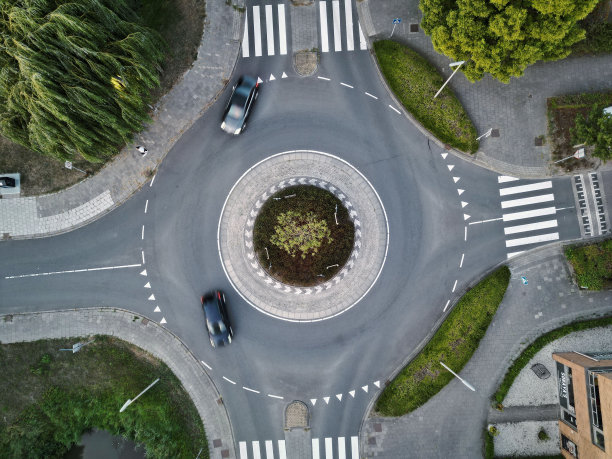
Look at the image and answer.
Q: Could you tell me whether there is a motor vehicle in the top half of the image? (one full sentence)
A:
Yes, you'll find a motor vehicle in the top half of the image.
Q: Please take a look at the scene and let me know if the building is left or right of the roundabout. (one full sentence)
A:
From the viewer's perspective, the building falls to the right of the roundabout.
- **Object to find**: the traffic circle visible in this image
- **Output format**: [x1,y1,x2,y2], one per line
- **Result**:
[145,82,461,397]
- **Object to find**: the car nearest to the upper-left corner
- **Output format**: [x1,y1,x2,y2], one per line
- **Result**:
[222,78,258,136]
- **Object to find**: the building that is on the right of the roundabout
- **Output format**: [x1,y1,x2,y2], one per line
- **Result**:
[553,353,612,459]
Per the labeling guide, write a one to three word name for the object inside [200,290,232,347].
car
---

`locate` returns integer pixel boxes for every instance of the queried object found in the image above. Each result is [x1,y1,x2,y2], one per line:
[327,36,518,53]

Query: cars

[200,290,232,347]
[222,78,258,136]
